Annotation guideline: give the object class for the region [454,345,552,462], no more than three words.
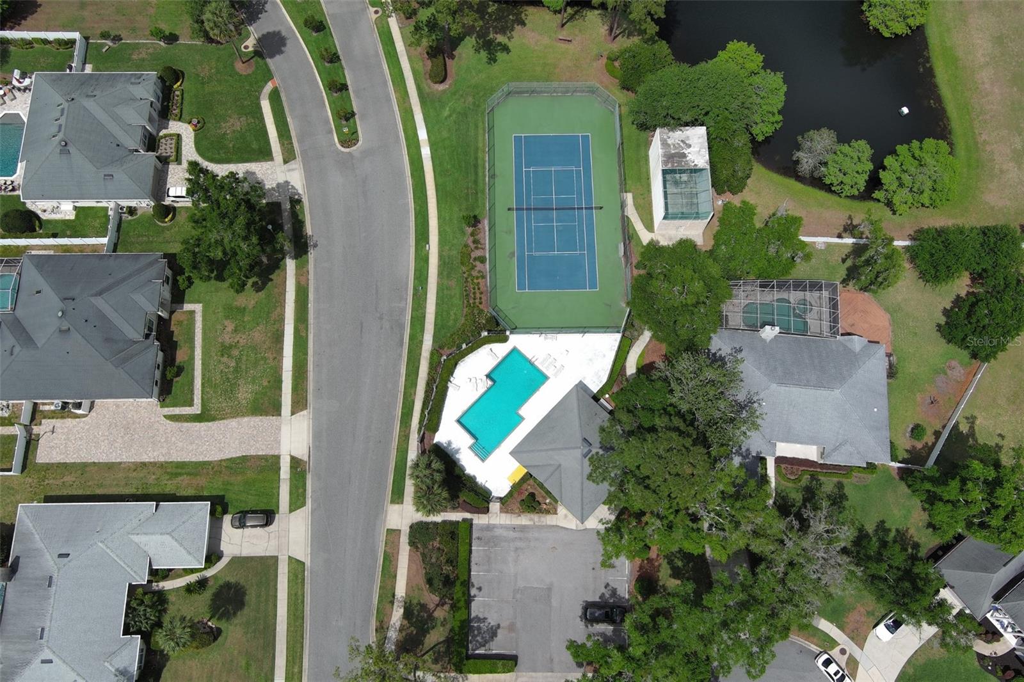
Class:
swimming pool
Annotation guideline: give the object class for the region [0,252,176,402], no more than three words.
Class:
house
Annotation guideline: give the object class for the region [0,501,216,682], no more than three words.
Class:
house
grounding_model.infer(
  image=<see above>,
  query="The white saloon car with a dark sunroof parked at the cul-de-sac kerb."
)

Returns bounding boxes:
[814,647,852,682]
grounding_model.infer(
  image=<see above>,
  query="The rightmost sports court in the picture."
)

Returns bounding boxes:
[650,126,713,245]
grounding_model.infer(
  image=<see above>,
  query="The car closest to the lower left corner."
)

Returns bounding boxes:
[231,510,274,530]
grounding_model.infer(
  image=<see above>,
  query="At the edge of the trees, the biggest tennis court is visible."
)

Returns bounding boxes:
[489,95,624,331]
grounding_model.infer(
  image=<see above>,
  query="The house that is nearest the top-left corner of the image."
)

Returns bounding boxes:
[19,71,165,208]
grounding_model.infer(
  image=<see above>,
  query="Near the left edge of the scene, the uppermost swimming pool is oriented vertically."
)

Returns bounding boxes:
[0,110,26,180]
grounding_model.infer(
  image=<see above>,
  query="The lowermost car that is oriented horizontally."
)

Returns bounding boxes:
[584,604,628,626]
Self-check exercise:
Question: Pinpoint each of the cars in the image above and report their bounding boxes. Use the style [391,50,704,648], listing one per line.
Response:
[231,510,274,530]
[876,602,910,643]
[814,647,852,682]
[160,185,194,203]
[584,604,628,626]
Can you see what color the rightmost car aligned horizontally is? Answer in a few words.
black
